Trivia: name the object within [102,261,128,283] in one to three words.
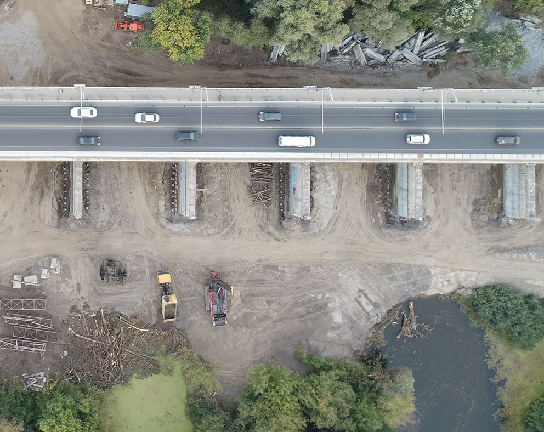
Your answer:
work vehicle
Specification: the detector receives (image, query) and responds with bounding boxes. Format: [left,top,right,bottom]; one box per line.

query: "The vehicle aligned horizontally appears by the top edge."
[112,20,144,32]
